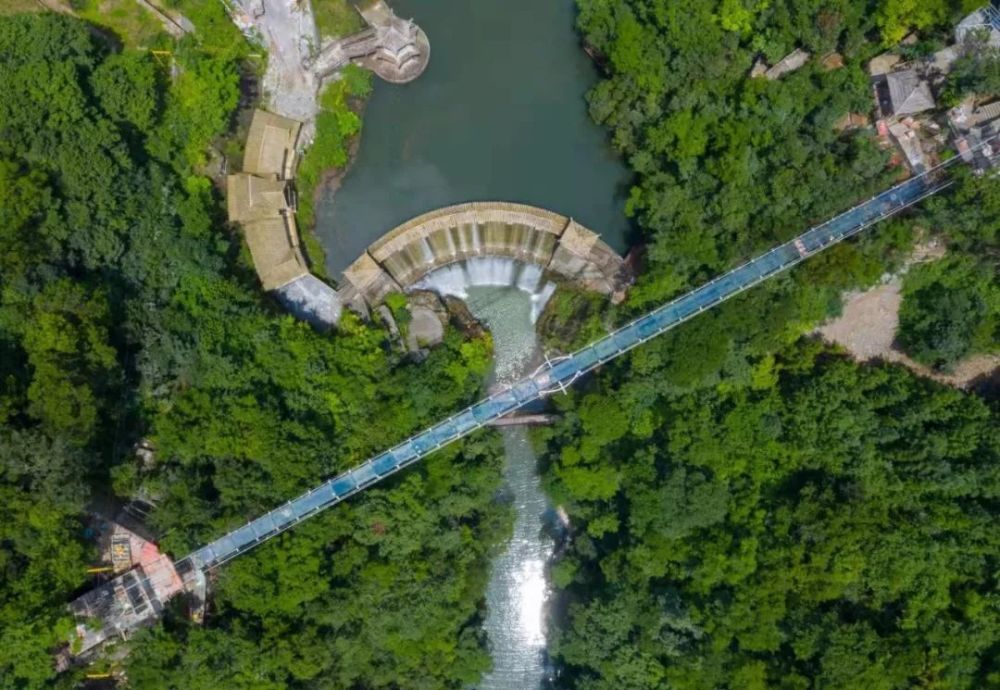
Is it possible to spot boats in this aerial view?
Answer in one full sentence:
No, there is no boat in the image.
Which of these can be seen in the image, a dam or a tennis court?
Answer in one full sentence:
I can see a dam in this picture.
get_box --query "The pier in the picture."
[361,0,394,27]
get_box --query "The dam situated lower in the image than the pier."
[378,222,561,287]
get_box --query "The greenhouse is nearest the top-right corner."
[942,3,1000,57]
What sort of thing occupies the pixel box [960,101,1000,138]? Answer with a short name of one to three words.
shed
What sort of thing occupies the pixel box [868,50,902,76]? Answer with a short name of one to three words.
shed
